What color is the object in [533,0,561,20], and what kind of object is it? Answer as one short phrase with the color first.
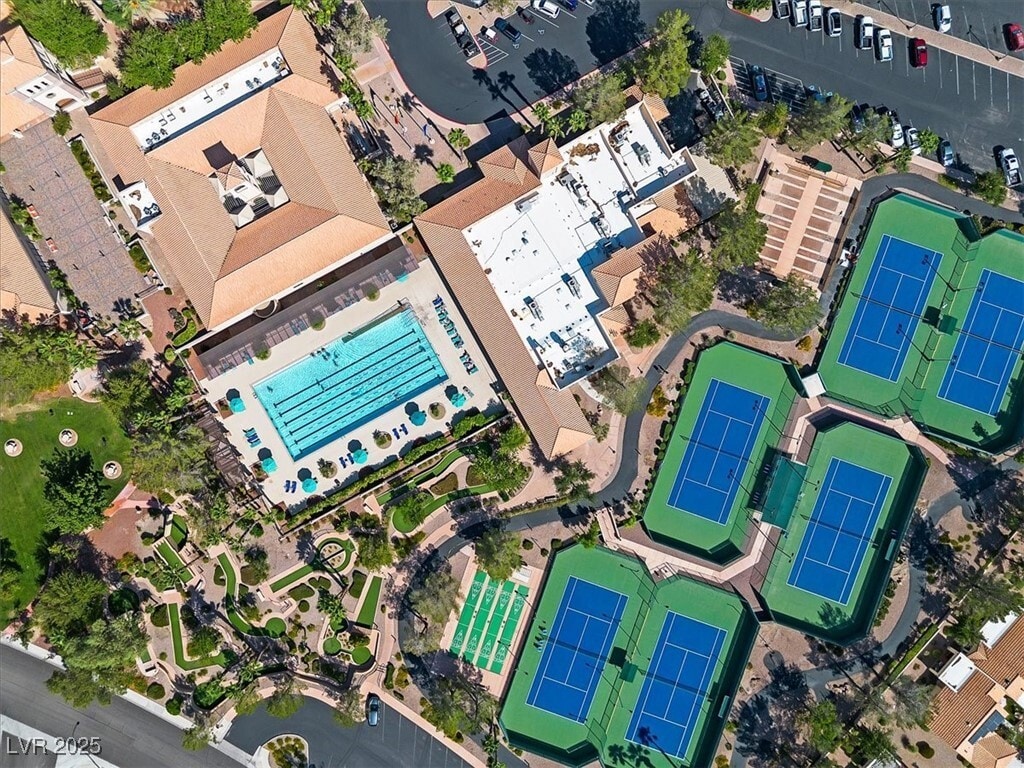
white car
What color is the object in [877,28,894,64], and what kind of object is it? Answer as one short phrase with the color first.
white vehicle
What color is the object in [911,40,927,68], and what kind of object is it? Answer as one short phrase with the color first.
red car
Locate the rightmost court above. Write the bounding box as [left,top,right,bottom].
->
[912,233,1024,453]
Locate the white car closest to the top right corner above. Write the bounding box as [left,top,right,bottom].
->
[936,4,952,33]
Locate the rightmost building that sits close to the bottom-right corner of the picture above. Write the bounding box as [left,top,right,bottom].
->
[926,602,1024,768]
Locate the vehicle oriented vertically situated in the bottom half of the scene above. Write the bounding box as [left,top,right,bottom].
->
[368,696,380,725]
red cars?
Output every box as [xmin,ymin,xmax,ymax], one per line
[911,40,927,68]
[1007,23,1024,52]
